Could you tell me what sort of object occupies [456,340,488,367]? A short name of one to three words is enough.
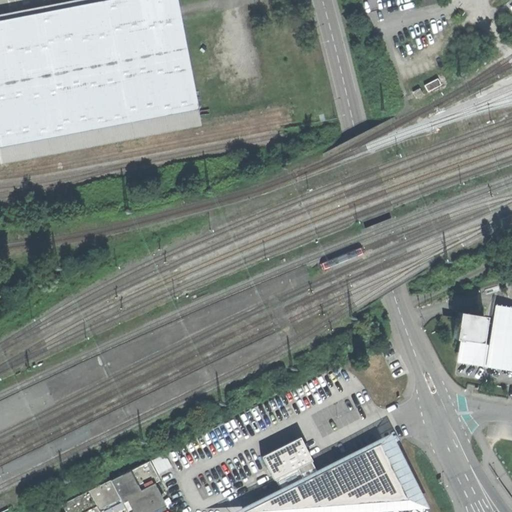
building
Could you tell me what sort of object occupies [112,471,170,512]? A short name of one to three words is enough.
building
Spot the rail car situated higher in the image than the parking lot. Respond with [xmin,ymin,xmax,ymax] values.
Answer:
[320,246,364,271]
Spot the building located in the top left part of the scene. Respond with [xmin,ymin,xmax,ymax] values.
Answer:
[0,0,209,166]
